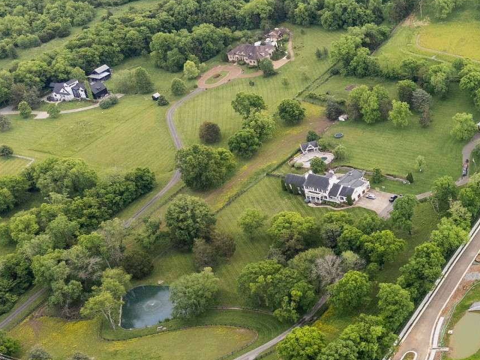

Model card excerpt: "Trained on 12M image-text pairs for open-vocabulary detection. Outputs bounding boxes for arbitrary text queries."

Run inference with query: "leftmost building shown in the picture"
[52,80,93,102]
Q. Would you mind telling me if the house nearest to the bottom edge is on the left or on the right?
right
